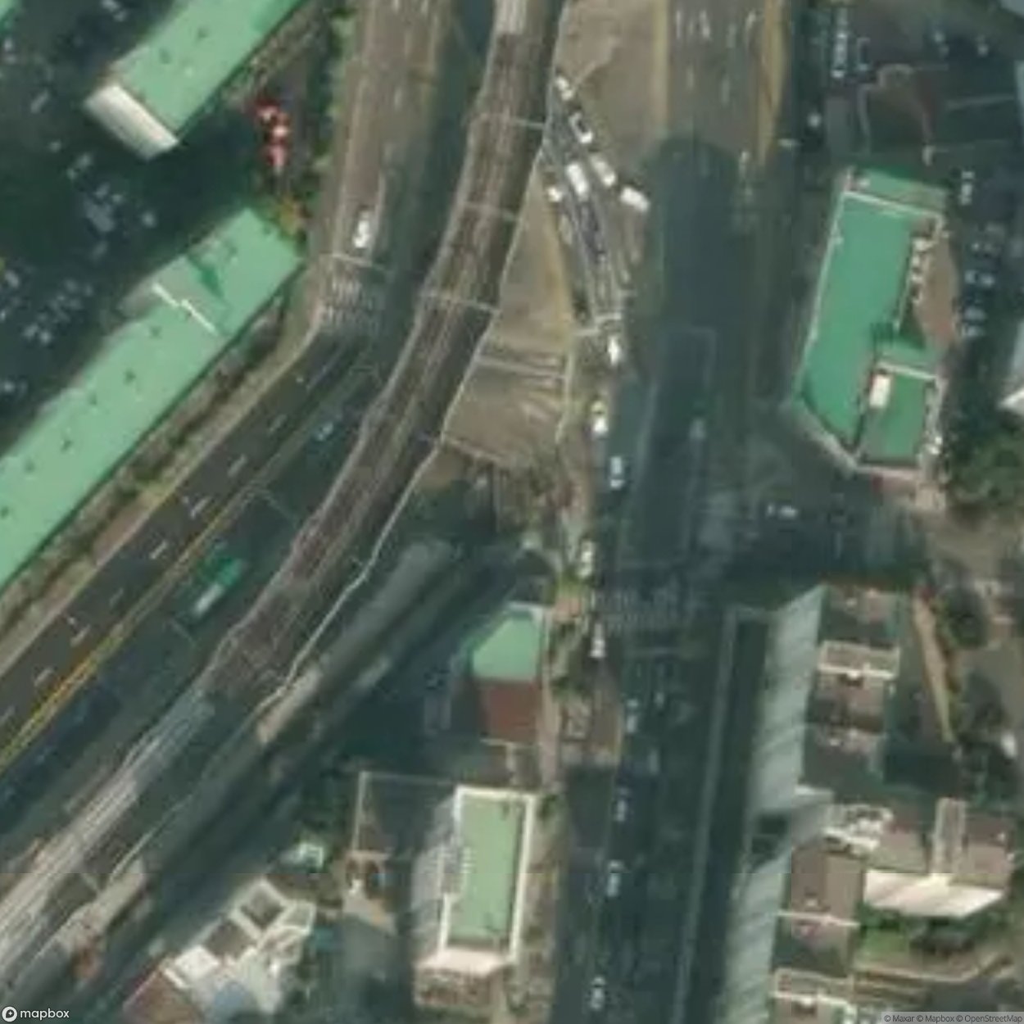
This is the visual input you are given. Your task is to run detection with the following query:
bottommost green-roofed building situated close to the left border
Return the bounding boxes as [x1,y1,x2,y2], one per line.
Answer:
[0,207,308,591]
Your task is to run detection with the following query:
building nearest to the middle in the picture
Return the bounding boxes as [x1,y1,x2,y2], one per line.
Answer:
[455,605,547,686]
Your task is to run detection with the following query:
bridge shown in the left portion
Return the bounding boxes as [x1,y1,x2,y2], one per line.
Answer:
[0,0,574,981]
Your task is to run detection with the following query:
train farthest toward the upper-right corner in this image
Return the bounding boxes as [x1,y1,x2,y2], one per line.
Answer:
[500,0,536,38]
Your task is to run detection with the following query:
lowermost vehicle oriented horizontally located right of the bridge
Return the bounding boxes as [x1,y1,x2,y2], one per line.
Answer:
[764,505,796,519]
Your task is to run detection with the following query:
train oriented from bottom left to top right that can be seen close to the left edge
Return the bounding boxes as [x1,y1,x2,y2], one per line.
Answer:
[0,701,208,929]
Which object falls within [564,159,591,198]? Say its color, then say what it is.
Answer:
white vehicle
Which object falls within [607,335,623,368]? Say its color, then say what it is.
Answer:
white car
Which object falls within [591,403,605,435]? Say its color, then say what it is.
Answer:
white vehicle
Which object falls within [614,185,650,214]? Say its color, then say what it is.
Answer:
white truck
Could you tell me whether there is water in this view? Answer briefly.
No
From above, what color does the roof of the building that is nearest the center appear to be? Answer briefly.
green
